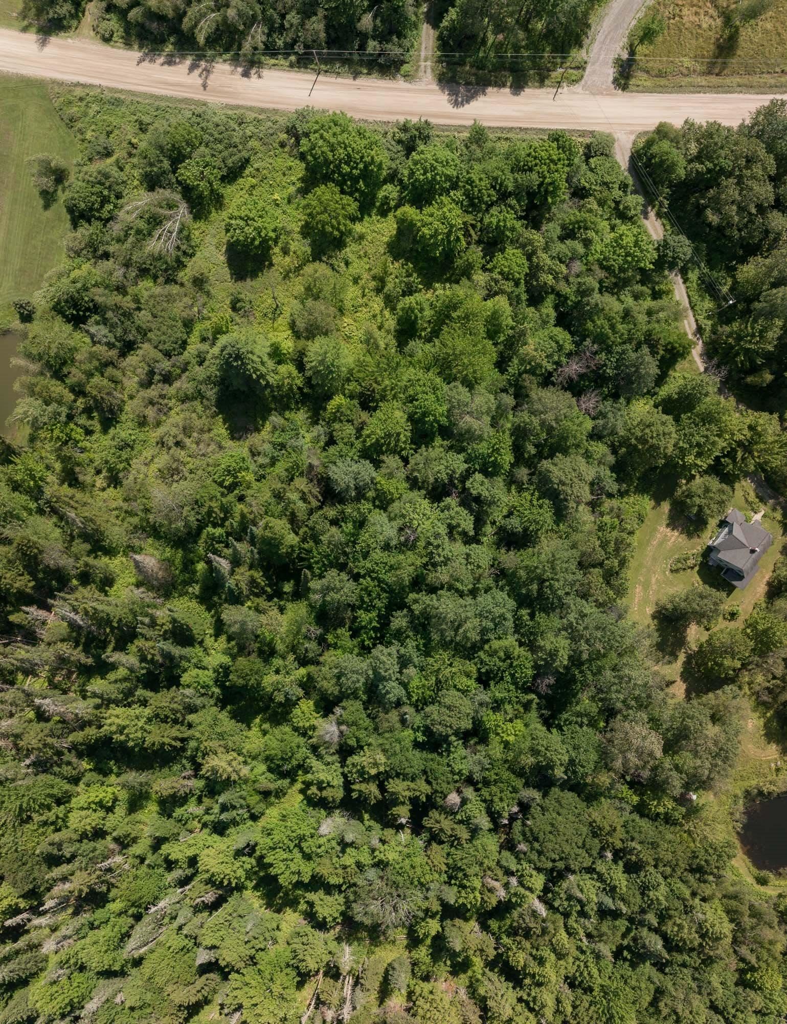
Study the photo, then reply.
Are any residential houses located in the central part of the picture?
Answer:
No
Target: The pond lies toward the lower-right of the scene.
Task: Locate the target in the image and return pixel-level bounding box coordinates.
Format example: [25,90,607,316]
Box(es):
[734,796,787,875]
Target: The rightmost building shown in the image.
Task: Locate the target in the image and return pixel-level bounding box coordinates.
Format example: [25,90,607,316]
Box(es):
[706,509,777,593]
